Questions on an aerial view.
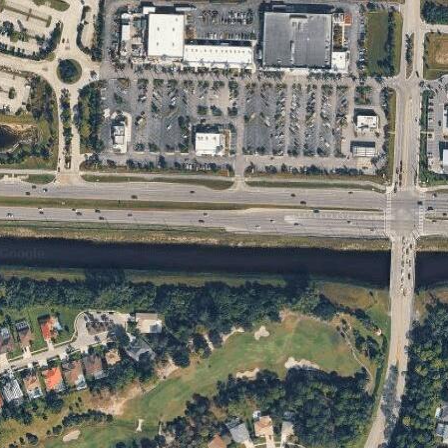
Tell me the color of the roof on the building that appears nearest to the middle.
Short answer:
white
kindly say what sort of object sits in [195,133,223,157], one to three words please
building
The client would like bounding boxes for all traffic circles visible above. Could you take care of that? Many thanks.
[47,50,90,93]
